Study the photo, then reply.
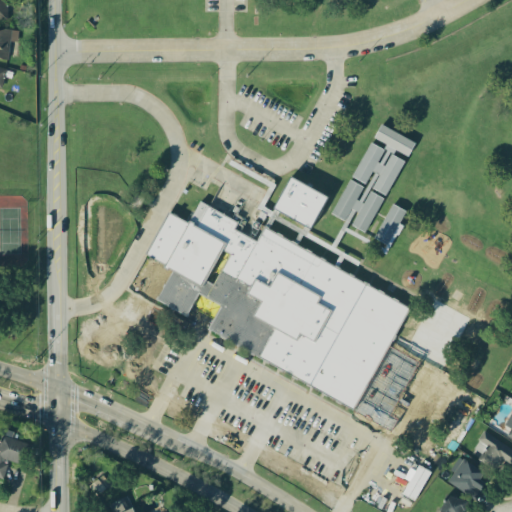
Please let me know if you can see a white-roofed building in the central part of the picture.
Yes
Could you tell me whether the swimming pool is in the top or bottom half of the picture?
bottom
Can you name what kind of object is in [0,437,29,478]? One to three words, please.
house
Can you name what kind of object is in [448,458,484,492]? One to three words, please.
house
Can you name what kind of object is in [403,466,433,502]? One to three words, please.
building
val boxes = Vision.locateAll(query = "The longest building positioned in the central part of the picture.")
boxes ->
[150,201,410,408]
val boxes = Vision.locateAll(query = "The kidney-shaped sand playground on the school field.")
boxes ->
[410,232,452,269]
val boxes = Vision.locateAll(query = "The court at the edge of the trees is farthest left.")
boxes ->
[0,196,28,268]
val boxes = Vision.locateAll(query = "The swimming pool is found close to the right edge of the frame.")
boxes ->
[490,397,512,436]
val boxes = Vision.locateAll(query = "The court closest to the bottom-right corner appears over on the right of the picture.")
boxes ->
[413,302,470,366]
